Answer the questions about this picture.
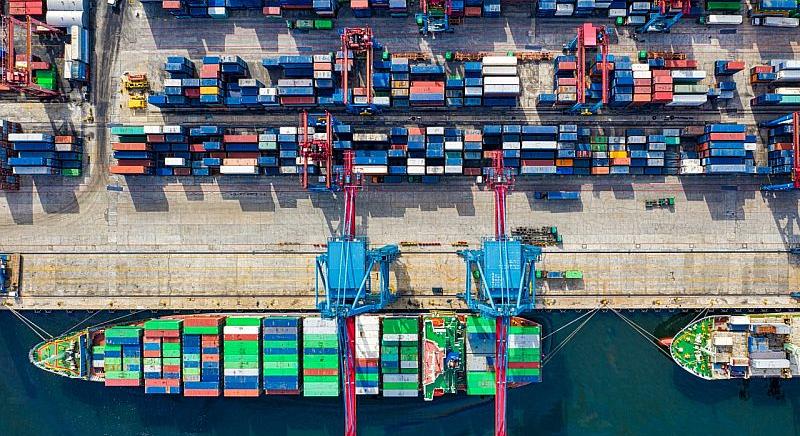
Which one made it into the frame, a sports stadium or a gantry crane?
gantry crane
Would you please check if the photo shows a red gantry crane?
Yes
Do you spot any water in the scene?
Yes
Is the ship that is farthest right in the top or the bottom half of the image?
bottom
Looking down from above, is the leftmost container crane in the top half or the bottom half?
top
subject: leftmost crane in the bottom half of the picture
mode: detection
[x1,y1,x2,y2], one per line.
[314,145,402,436]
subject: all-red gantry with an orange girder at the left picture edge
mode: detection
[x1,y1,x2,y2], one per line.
[4,14,71,103]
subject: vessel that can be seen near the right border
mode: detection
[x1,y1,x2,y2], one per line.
[659,311,800,381]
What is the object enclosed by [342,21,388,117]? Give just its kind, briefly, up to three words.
container crane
